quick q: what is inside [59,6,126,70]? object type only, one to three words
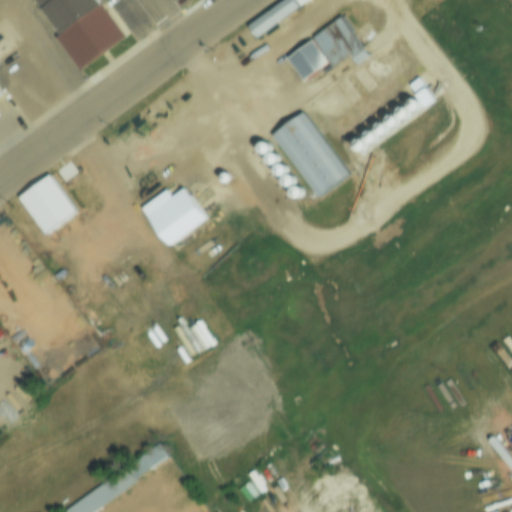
building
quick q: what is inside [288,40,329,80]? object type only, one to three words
building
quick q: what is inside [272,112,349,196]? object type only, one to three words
shed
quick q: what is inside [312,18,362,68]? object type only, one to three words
barn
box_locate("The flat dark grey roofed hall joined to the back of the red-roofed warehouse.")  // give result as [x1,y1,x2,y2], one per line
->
[36,0,103,36]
